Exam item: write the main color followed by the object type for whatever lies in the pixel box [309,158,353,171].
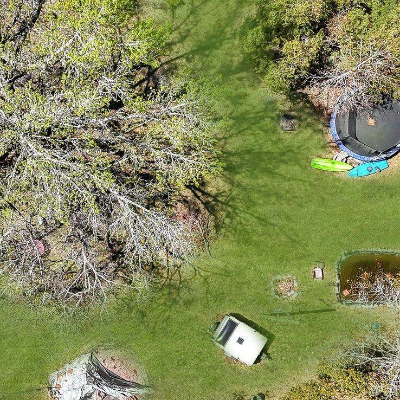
green boat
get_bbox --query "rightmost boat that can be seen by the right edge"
[346,159,389,177]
